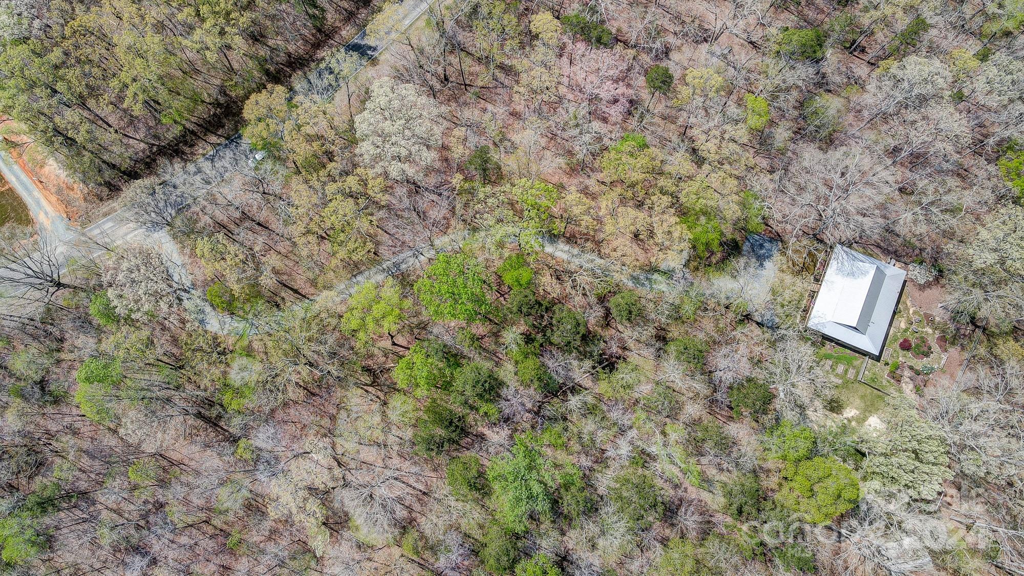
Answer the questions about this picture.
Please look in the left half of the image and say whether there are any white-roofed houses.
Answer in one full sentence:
No, looking in the left half of the image, there is no white-roofed house.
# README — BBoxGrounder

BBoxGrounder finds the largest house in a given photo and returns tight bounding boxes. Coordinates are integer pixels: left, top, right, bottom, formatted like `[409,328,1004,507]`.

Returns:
[798,245,907,355]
